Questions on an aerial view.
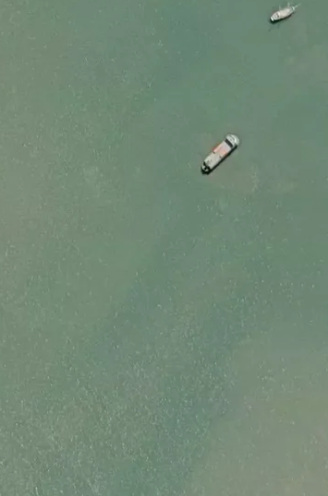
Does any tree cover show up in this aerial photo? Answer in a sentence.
No, the picture contains no tree cover.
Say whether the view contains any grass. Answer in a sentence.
No, there's no grass in this view.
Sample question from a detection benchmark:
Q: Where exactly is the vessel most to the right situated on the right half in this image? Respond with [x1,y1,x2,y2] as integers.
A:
[271,4,293,22]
